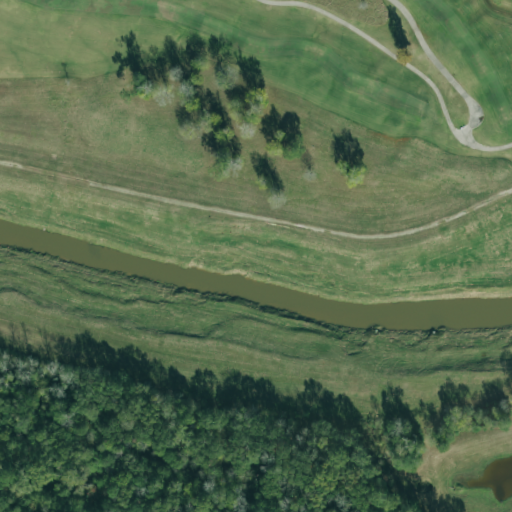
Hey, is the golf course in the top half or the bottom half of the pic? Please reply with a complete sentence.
The top half of the photo is where the golf course is.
